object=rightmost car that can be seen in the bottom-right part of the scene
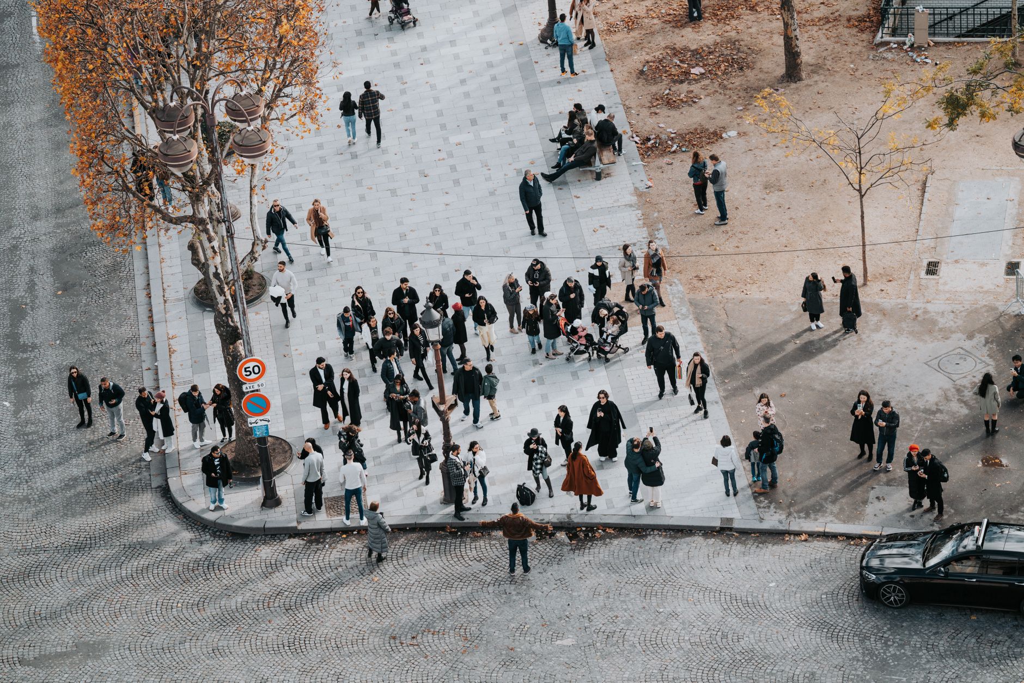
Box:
[856,510,1024,609]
